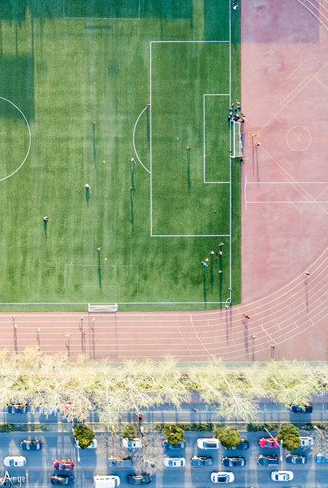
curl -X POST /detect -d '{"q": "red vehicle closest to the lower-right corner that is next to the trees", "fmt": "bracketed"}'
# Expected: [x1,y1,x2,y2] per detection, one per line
[256,436,280,448]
